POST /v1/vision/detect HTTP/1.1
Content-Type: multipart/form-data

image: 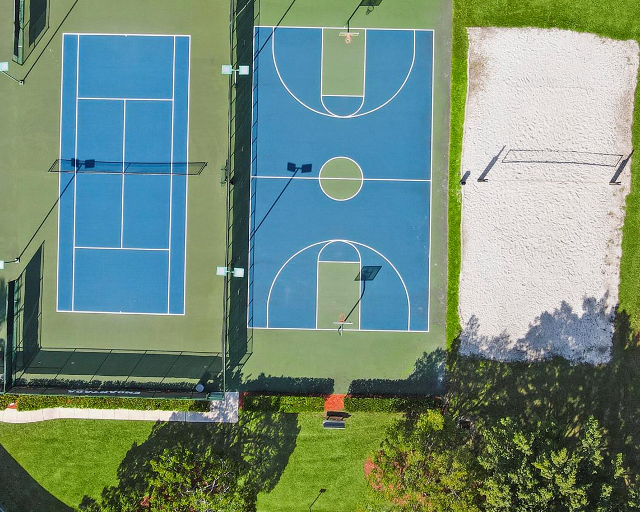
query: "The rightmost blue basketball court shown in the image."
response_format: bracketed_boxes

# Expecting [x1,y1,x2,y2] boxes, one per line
[225,0,453,395]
